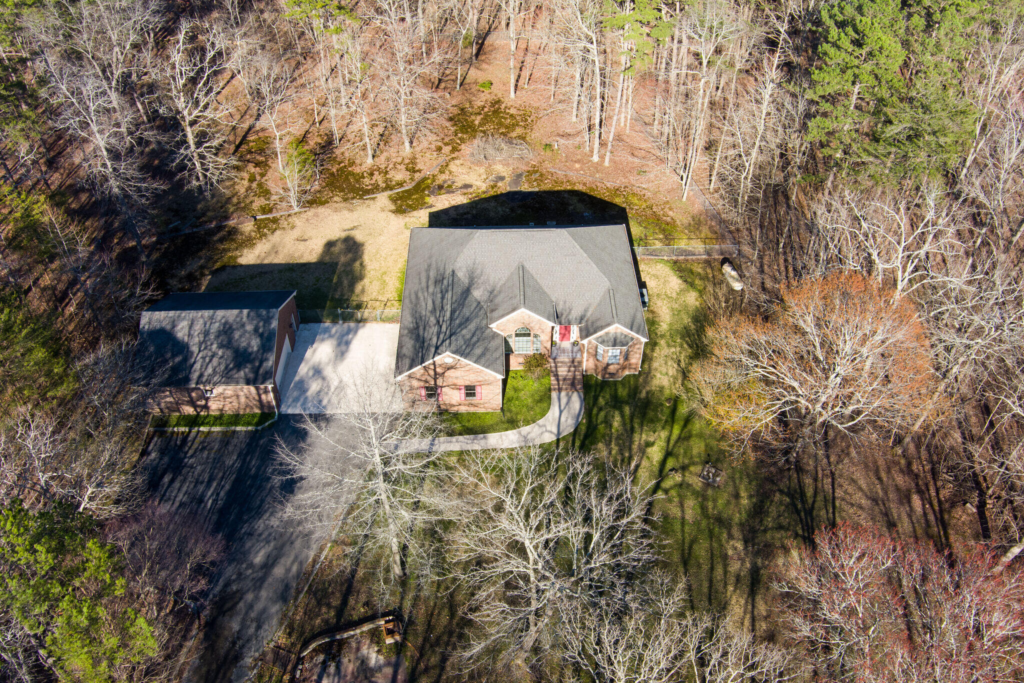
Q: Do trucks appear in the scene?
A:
No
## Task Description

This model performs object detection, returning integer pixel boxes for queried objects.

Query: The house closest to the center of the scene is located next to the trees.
[395,222,649,420]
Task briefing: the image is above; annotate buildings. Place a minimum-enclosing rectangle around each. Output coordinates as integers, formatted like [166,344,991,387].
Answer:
[395,222,649,420]
[132,290,299,416]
